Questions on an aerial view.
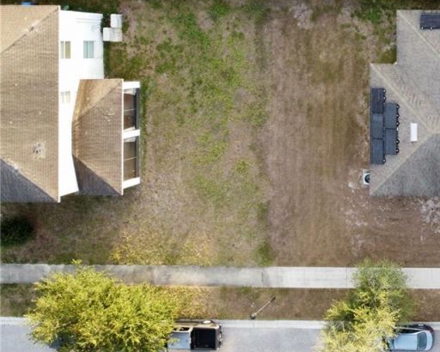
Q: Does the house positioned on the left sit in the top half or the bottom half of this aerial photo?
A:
top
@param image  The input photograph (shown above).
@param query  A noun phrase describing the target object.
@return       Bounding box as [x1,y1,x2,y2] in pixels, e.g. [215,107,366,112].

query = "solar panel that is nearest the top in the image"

[420,14,440,28]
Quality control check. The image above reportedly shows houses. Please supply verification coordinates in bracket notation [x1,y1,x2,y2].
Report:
[369,10,440,196]
[0,4,140,202]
